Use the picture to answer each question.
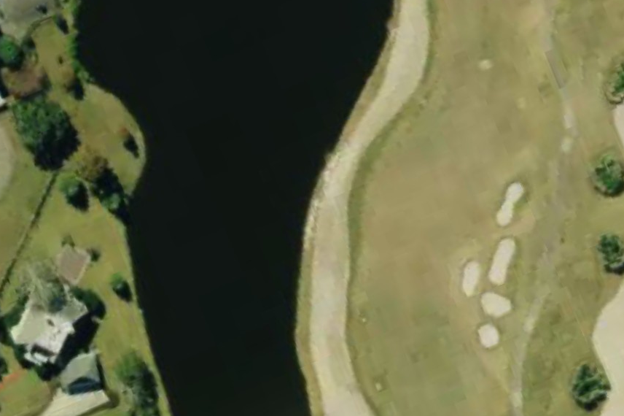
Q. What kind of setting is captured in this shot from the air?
golf course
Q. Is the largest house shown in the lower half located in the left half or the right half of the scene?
left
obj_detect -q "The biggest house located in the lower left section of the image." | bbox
[7,286,95,369]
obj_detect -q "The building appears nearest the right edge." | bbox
[59,352,102,397]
